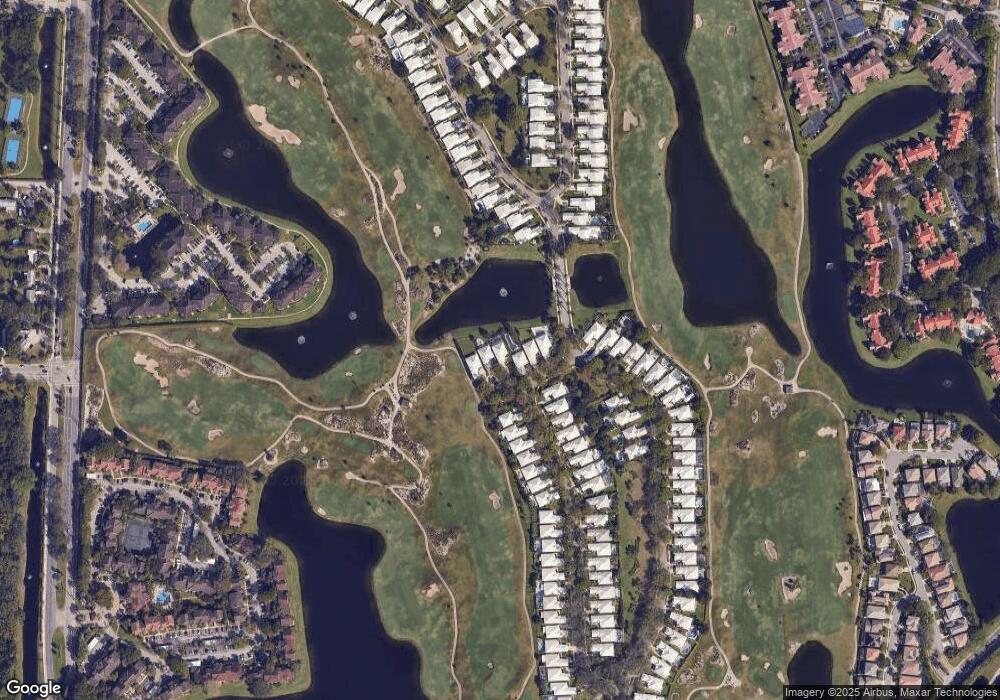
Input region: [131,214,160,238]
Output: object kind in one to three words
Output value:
swimming pool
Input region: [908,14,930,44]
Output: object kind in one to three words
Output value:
building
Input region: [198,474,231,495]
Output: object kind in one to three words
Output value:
house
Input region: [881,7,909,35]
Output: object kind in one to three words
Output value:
swimming pool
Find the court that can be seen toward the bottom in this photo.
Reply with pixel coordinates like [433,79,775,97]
[127,519,151,549]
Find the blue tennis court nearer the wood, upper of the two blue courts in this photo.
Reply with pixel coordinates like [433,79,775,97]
[5,94,23,124]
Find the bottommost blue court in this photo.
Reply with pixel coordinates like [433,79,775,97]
[3,136,22,168]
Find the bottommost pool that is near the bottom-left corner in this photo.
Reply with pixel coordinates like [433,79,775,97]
[153,586,172,606]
